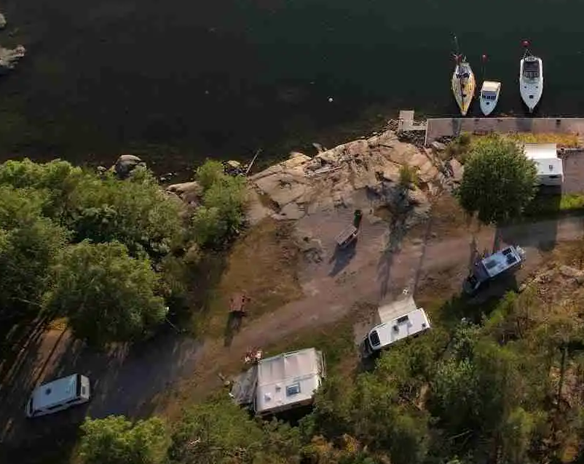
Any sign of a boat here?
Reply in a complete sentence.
Yes, the frame does contain a boat.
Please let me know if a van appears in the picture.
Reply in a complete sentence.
Yes, this view includes a van.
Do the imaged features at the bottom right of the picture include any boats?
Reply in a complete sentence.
No, the scene shows no boat at the bottom right of the picture.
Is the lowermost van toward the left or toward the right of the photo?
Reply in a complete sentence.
The lowermost van appears in the left half of the scene.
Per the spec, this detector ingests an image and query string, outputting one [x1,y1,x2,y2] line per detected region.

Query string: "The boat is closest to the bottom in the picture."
[479,81,501,117]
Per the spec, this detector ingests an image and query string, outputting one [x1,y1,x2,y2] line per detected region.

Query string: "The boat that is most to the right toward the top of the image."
[518,47,544,114]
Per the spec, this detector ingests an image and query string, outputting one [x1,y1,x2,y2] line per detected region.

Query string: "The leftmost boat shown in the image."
[447,35,476,117]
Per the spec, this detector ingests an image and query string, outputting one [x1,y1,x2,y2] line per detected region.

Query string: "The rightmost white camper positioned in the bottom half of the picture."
[367,295,435,359]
